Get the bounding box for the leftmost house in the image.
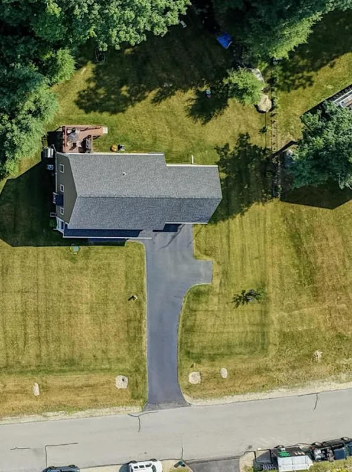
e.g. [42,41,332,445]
[39,125,224,240]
